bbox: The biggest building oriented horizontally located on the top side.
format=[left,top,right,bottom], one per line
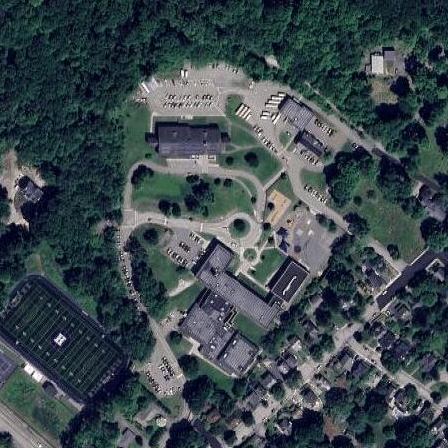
[145,126,230,159]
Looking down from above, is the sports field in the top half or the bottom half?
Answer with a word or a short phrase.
bottom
